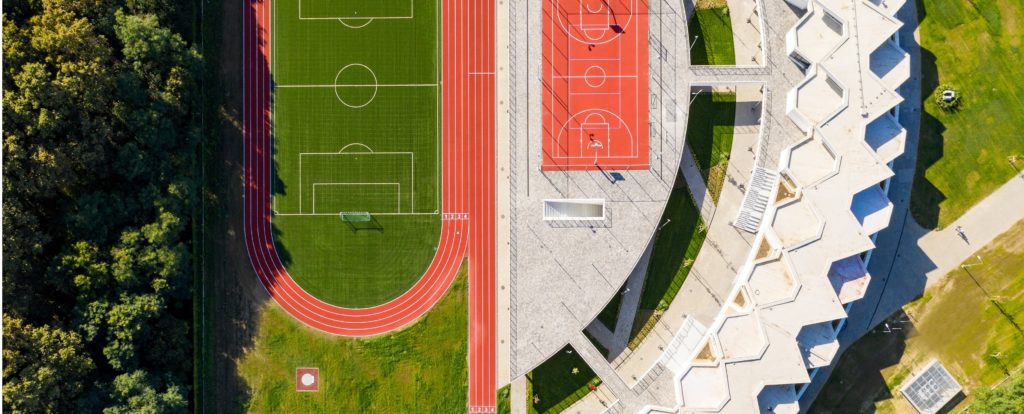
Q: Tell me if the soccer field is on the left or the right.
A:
left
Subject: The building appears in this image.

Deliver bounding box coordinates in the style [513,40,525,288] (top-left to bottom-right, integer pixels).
[642,0,910,414]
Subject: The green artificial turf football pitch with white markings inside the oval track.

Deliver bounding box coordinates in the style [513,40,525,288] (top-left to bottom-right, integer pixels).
[270,0,442,307]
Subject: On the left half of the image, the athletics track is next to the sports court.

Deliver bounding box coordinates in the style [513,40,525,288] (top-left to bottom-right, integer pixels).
[242,0,497,414]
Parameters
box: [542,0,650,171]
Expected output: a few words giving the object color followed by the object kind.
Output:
red sports court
